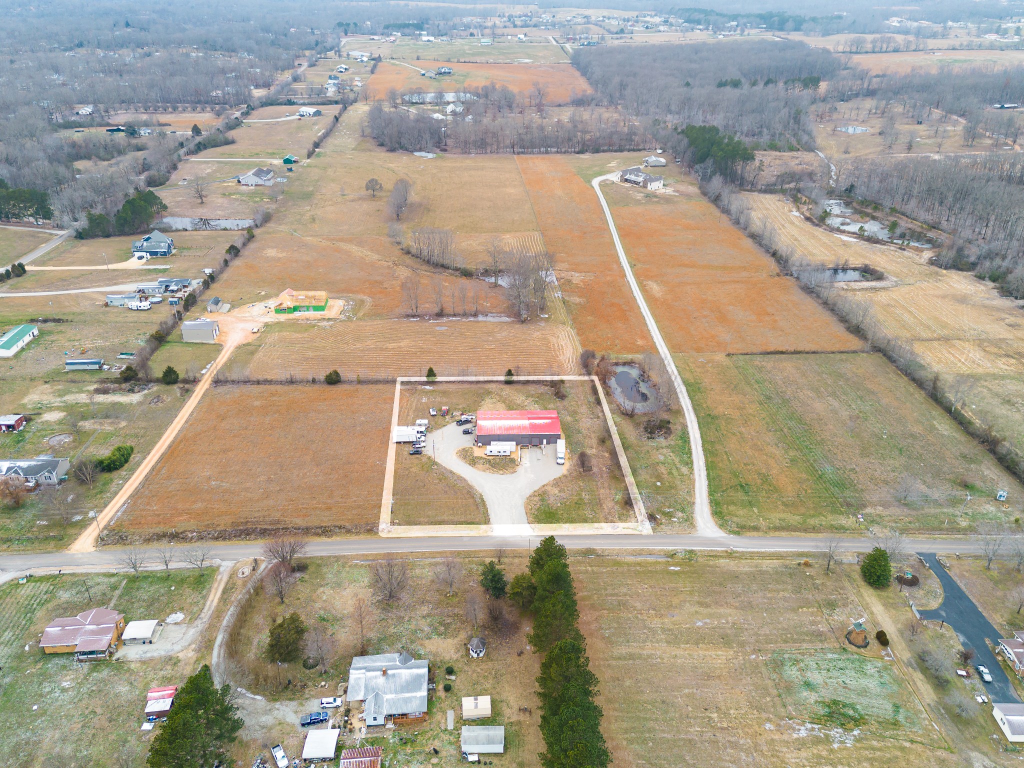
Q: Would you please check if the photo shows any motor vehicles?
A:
Yes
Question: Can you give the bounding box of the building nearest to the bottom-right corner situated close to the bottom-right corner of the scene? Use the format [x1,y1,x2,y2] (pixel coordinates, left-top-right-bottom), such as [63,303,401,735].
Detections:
[984,694,1024,743]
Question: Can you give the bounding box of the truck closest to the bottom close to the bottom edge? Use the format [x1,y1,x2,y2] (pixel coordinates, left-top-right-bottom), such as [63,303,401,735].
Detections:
[268,738,291,768]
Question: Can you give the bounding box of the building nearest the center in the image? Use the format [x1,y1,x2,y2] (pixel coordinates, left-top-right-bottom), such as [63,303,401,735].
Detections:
[476,408,563,446]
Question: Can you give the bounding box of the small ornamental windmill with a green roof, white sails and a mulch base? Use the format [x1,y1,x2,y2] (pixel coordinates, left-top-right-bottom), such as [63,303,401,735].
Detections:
[845,621,873,651]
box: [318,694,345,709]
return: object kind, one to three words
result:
car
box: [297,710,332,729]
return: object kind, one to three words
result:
vehicle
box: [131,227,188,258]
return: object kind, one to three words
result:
house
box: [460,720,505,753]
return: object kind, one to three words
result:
shed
